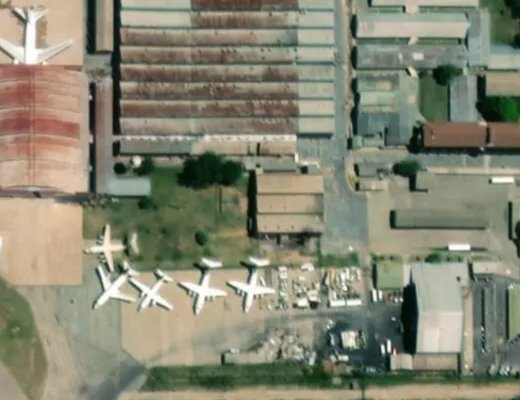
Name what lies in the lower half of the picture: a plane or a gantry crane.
plane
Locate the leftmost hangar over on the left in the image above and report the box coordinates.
[0,65,92,197]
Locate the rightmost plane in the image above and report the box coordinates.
[228,255,276,311]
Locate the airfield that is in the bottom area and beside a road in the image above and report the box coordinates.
[0,196,368,400]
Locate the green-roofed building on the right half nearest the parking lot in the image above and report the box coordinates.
[375,262,403,289]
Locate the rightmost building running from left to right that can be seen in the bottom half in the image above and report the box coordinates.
[473,261,506,275]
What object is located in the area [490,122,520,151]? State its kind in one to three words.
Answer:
house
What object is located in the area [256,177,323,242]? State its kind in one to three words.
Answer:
building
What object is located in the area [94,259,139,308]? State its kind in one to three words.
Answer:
airplane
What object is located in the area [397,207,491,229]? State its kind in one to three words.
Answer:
shed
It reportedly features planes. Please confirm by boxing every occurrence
[228,255,276,311]
[83,224,138,271]
[129,261,176,310]
[94,259,139,308]
[0,0,72,65]
[180,258,228,314]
